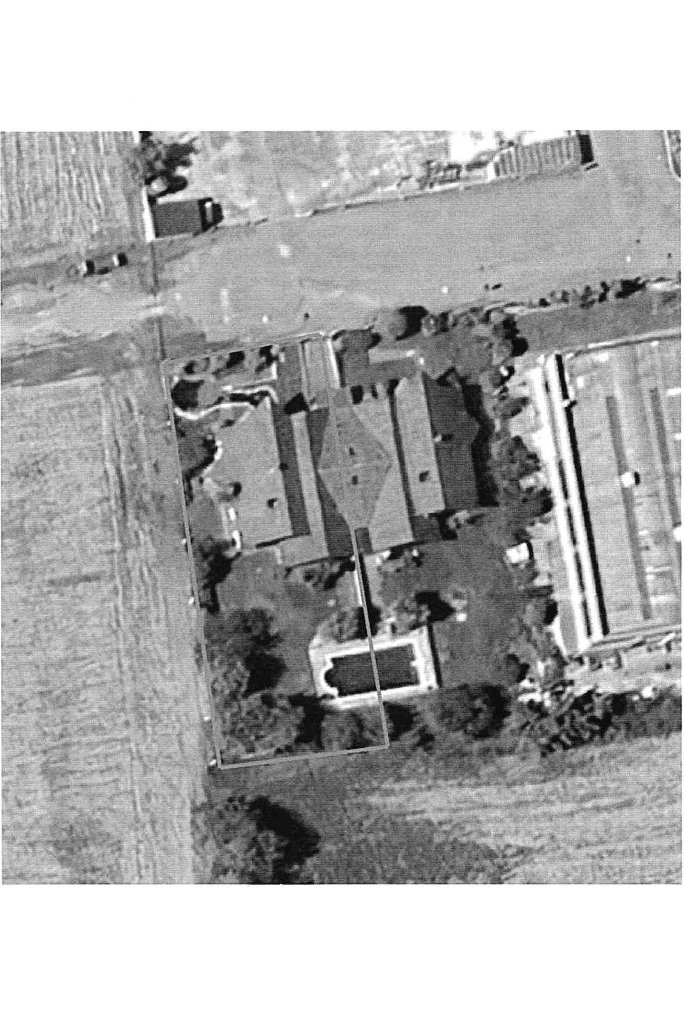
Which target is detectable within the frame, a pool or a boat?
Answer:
pool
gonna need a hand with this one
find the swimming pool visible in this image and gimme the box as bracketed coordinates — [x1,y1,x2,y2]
[309,625,438,706]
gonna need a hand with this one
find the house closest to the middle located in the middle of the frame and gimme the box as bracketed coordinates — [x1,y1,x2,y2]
[218,372,482,567]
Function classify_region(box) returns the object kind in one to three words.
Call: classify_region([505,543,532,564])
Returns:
shed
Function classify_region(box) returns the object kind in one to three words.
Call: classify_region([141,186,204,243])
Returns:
shed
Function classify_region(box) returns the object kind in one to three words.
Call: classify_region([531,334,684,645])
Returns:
warehouse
